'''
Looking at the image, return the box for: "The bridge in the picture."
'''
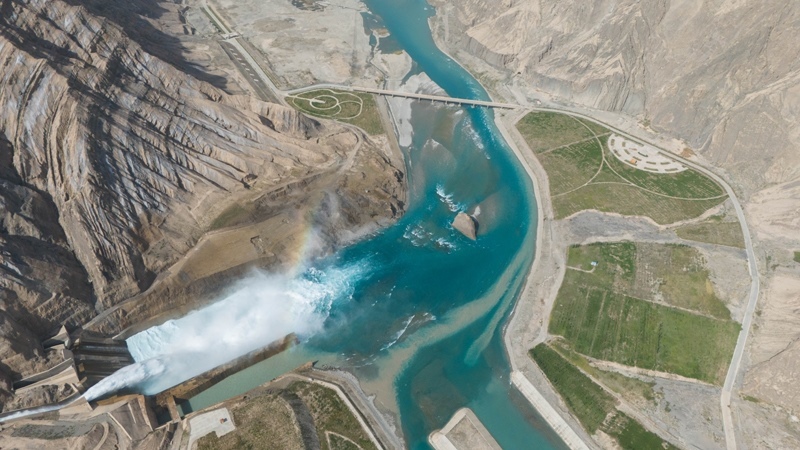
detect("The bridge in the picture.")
[373,89,521,112]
